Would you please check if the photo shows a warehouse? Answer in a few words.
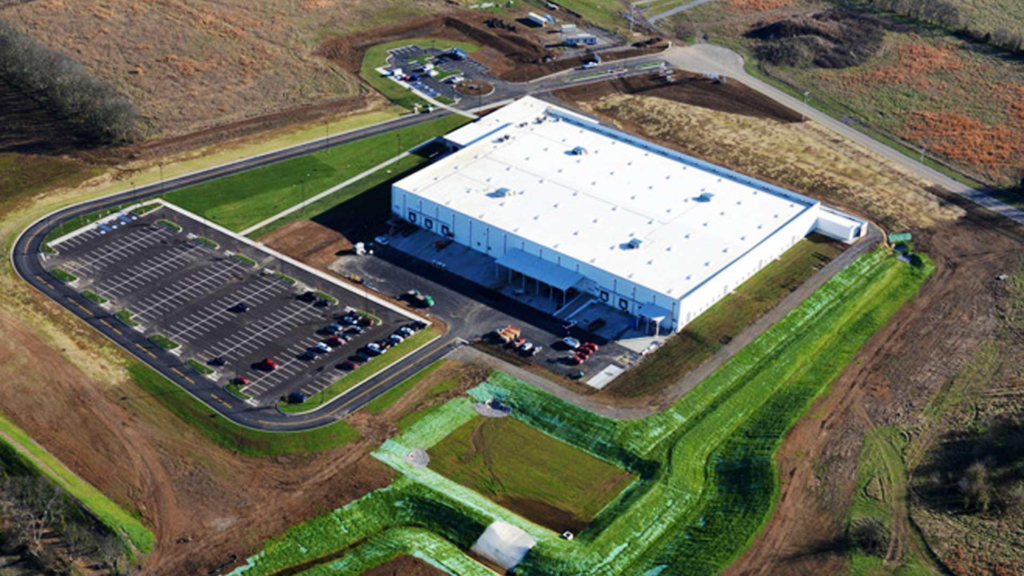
Yes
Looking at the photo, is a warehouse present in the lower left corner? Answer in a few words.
No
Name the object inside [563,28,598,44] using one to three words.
building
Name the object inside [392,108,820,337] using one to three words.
warehouse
